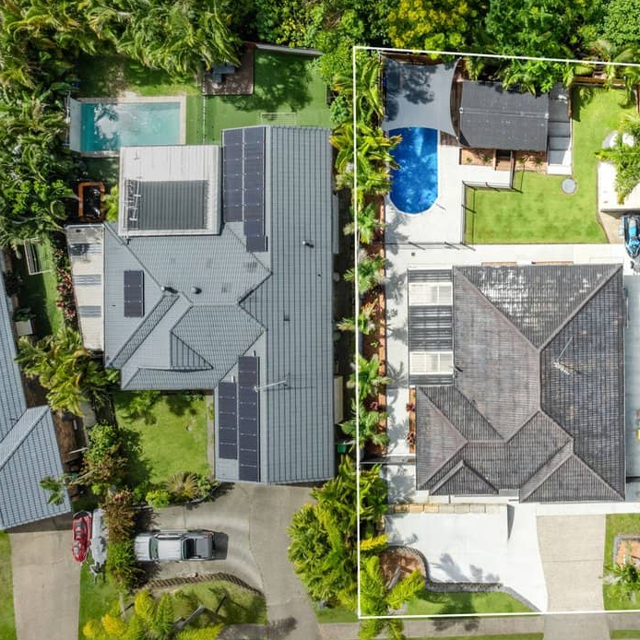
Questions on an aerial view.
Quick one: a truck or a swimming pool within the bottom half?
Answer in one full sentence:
It is a truck that can be seen within the bottom half.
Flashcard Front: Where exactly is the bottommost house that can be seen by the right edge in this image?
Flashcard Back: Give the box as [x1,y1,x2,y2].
[415,263,627,505]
